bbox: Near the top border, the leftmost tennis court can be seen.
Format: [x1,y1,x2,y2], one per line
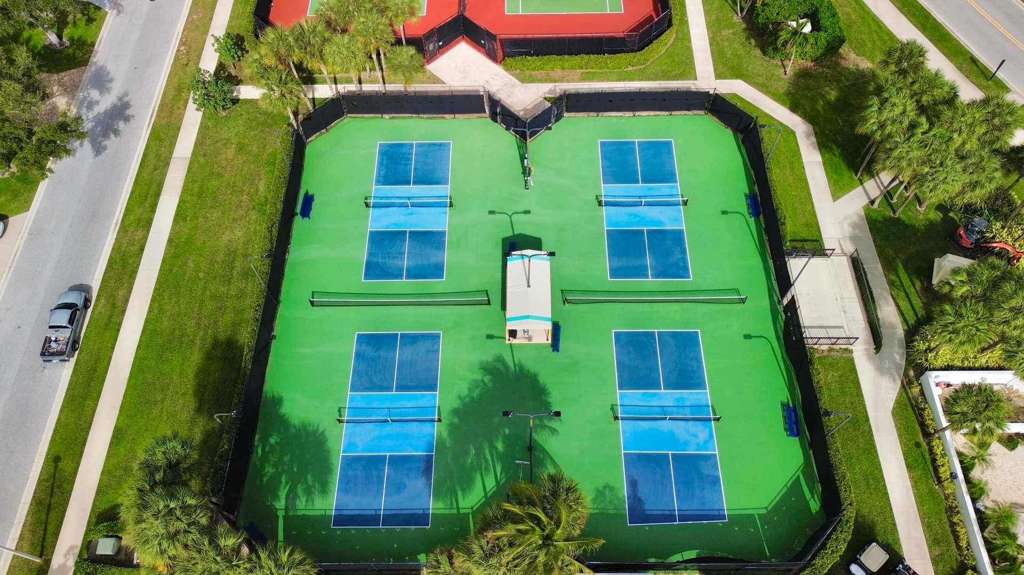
[263,0,464,66]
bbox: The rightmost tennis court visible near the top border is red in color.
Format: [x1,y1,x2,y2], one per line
[462,0,668,65]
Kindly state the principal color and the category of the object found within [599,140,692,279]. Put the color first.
blue sports court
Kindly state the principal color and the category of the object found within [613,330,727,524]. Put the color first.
blue sports court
